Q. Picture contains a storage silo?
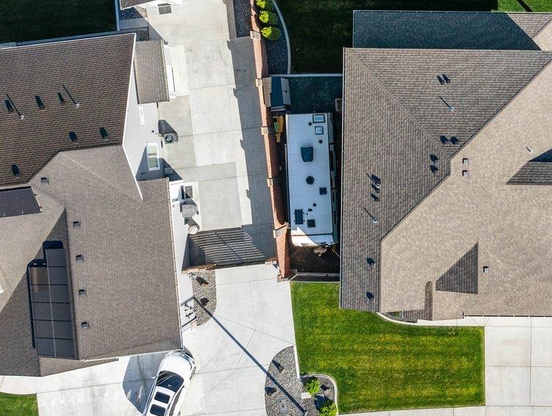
No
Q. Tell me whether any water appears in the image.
No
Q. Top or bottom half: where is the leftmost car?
bottom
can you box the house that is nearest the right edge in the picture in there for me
[339,9,552,321]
